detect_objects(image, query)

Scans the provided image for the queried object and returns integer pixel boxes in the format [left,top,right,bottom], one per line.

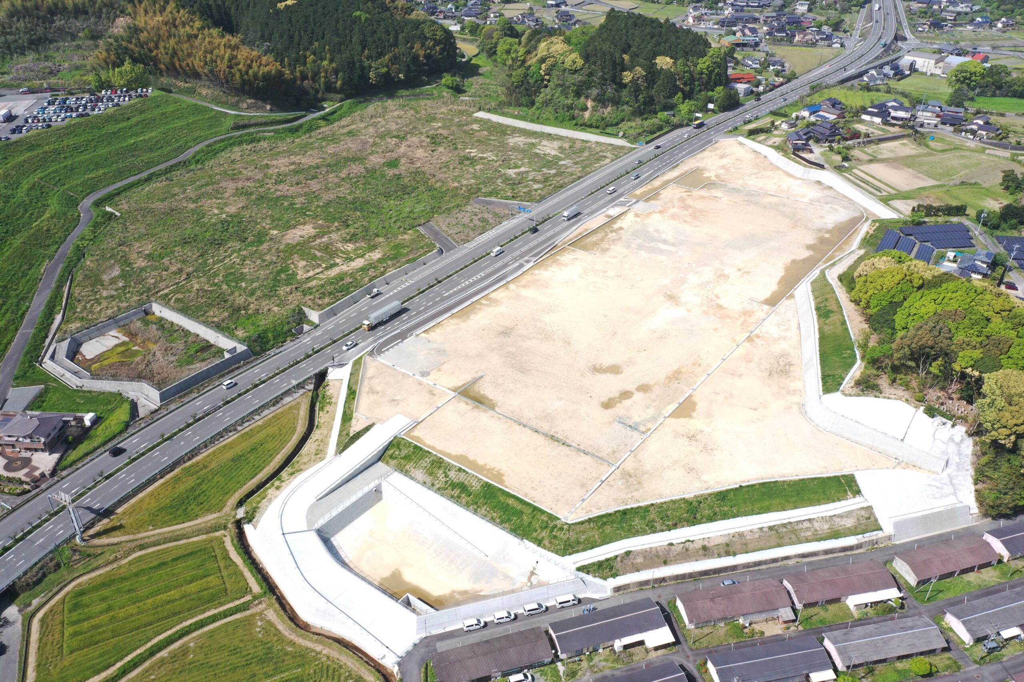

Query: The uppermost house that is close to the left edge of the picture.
[0,409,81,455]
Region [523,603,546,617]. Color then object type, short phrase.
white vehicle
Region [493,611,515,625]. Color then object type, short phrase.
white vehicle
